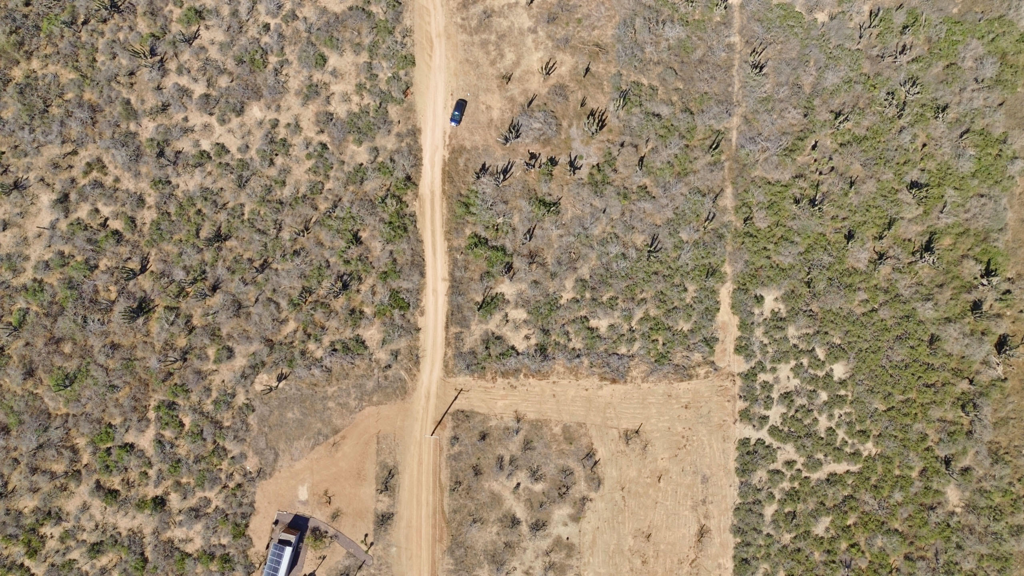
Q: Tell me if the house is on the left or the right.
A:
left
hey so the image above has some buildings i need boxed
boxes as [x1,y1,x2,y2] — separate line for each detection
[263,526,301,576]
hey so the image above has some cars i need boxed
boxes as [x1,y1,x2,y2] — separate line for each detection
[448,98,466,126]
